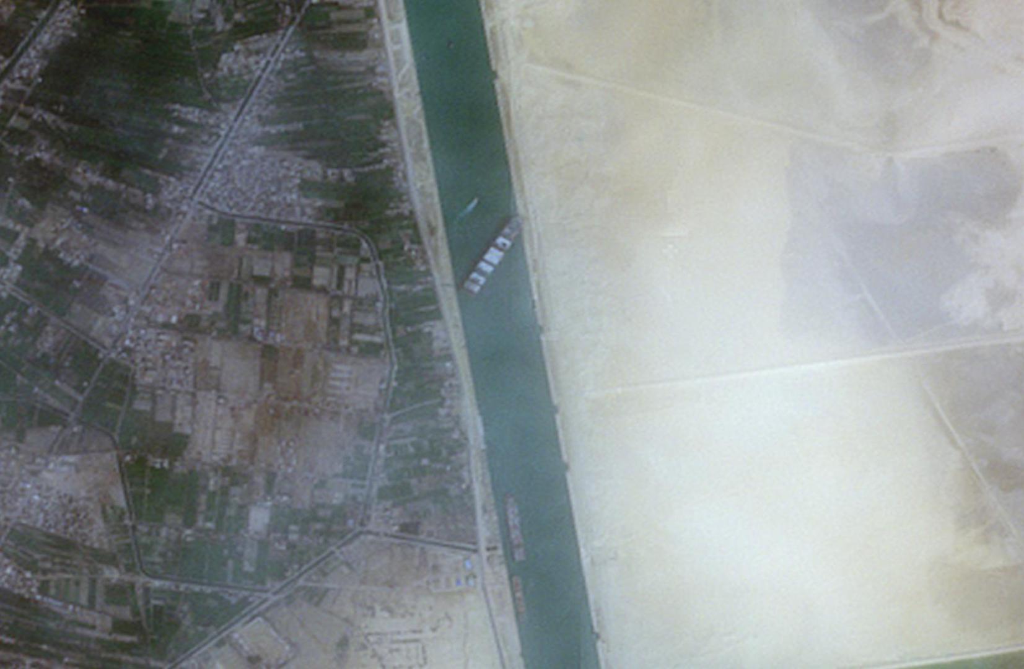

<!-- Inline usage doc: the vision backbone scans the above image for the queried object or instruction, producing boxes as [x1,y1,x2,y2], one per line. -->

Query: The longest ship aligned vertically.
[507,494,525,561]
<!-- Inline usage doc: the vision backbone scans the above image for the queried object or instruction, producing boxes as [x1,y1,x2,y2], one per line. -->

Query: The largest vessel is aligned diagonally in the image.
[464,219,521,296]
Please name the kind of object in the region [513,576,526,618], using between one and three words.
ship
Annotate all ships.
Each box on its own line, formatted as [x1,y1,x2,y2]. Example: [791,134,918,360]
[464,219,521,296]
[507,494,525,561]
[513,576,526,618]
